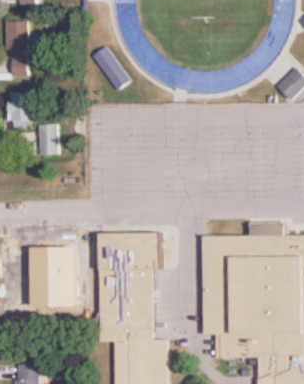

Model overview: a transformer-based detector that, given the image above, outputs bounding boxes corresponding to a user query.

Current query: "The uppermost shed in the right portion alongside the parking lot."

[274,68,304,98]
